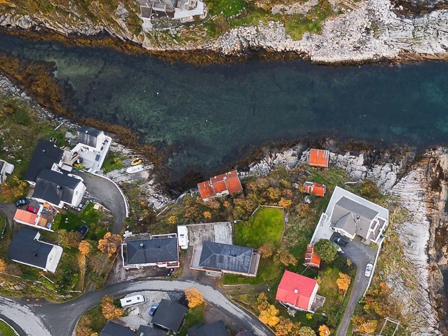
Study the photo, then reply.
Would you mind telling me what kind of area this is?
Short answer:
residential area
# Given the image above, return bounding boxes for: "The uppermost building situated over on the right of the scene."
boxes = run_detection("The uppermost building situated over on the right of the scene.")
[309,148,330,169]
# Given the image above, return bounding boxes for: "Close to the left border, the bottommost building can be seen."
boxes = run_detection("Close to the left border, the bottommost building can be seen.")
[9,229,67,268]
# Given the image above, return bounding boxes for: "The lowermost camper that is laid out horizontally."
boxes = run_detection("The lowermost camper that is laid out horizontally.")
[116,293,148,307]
